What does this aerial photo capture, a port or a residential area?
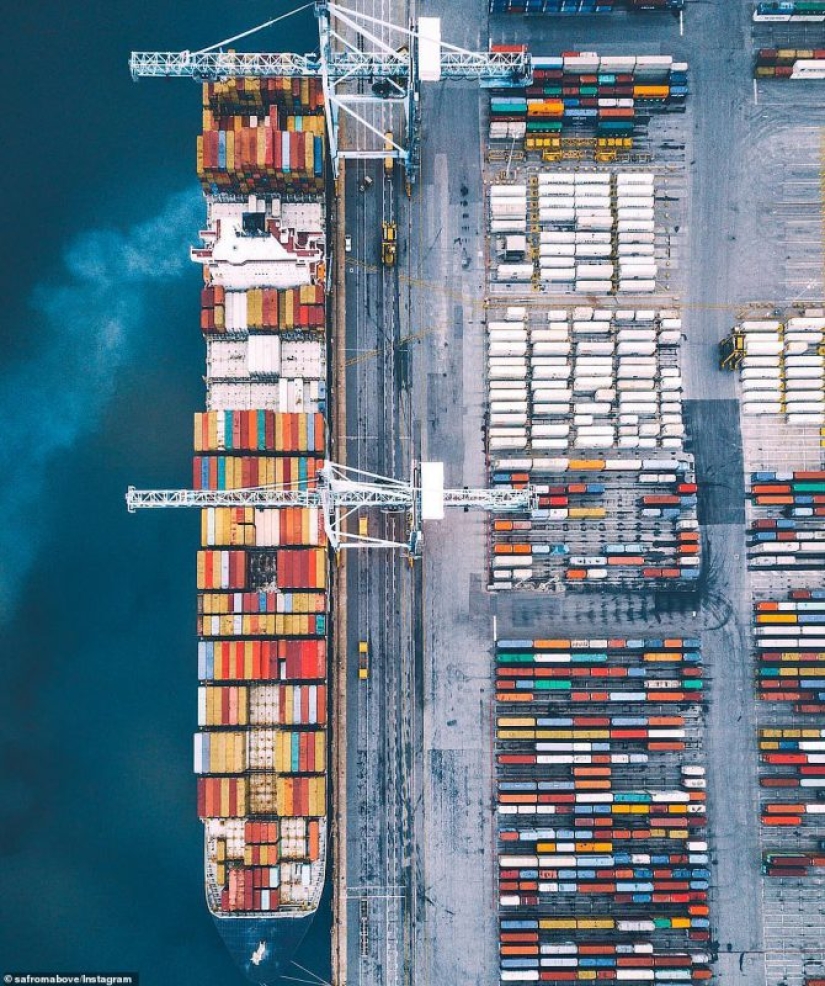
port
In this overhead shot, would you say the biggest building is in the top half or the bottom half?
top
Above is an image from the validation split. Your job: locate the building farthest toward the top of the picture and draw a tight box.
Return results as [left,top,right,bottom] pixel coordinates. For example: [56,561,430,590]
[500,235,526,255]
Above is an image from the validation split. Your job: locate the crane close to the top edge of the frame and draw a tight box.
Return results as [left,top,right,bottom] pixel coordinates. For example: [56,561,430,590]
[131,5,529,188]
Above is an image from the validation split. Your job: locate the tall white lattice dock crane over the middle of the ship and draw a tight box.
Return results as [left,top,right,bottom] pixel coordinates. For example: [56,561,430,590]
[120,458,535,565]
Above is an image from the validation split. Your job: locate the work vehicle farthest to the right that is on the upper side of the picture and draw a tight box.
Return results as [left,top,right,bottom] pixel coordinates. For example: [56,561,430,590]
[722,329,746,369]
